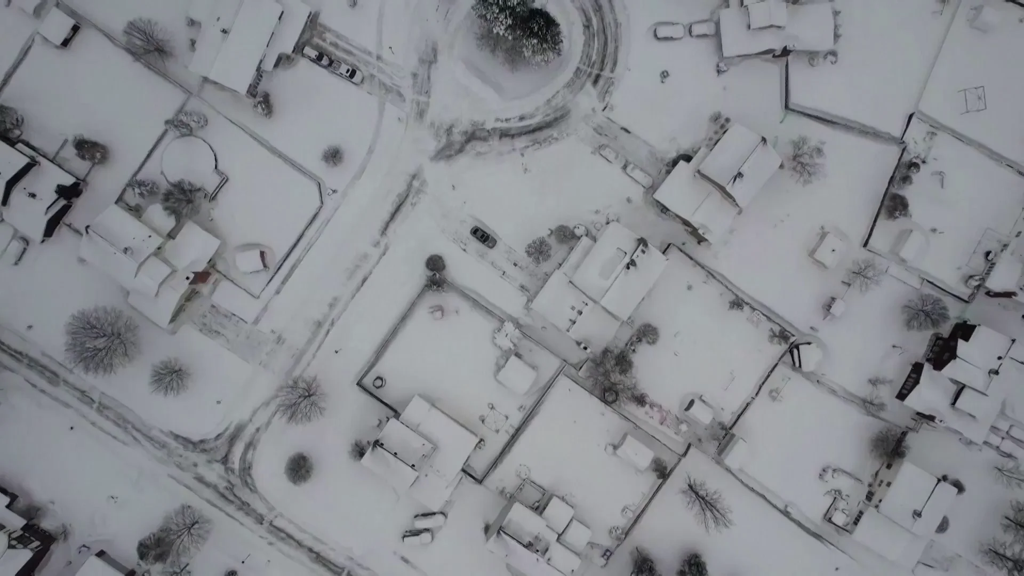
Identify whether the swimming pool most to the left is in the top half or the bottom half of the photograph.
top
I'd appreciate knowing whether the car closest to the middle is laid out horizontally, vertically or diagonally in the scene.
diagonally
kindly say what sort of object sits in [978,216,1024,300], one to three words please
house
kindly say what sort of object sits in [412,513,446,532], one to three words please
vehicle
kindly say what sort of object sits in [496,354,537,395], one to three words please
shed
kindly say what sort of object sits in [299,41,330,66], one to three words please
car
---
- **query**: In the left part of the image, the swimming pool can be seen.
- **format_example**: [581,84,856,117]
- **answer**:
[161,131,232,199]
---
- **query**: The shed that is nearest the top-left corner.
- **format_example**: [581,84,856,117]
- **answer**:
[37,6,85,50]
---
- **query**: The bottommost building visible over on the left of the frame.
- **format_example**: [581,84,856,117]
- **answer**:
[73,546,140,576]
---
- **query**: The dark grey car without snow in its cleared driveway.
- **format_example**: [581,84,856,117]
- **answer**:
[469,224,497,249]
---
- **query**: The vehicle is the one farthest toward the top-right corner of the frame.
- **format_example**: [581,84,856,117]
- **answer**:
[690,19,718,35]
